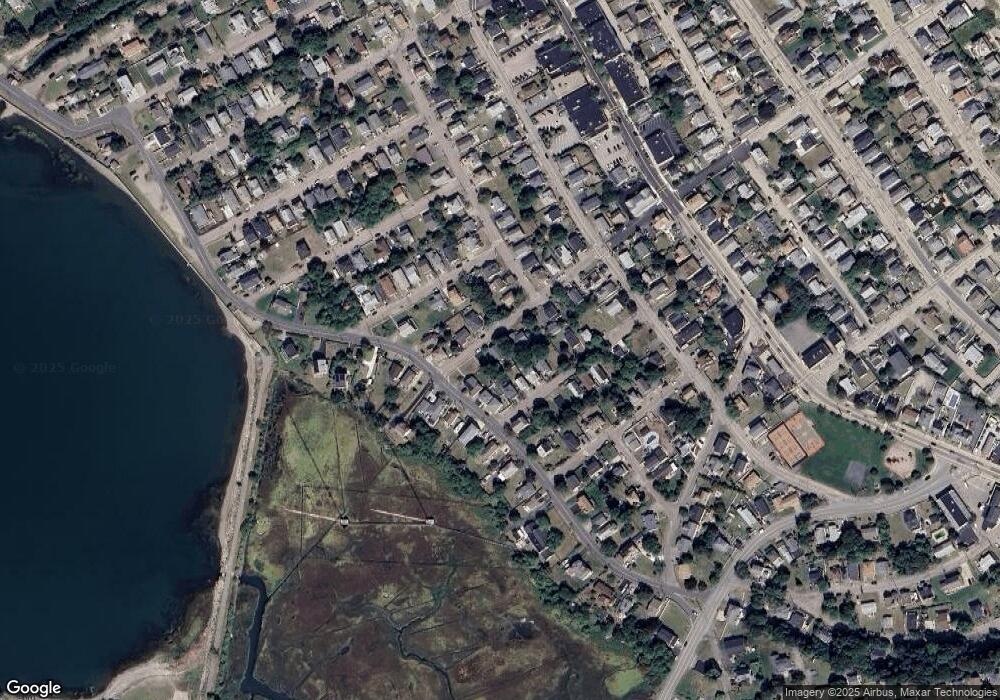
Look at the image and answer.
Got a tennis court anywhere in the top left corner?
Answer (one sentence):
No, looking in the top left corner, there is no tennis court.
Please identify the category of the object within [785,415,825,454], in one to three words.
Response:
sports court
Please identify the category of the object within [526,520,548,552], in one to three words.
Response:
house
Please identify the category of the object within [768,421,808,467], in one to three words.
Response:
tennis court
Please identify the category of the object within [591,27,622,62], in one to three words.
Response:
building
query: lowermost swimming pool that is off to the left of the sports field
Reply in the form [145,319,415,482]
[644,431,661,446]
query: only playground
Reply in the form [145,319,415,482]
[885,444,917,476]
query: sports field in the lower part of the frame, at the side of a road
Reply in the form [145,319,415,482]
[793,402,936,499]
